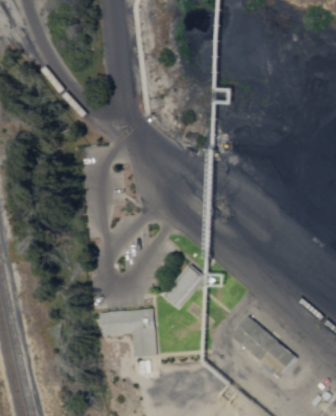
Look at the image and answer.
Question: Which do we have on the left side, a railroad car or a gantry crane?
railroad car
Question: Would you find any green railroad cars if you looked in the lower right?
No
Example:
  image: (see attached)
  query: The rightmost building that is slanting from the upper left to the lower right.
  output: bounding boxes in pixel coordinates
[234,317,298,376]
